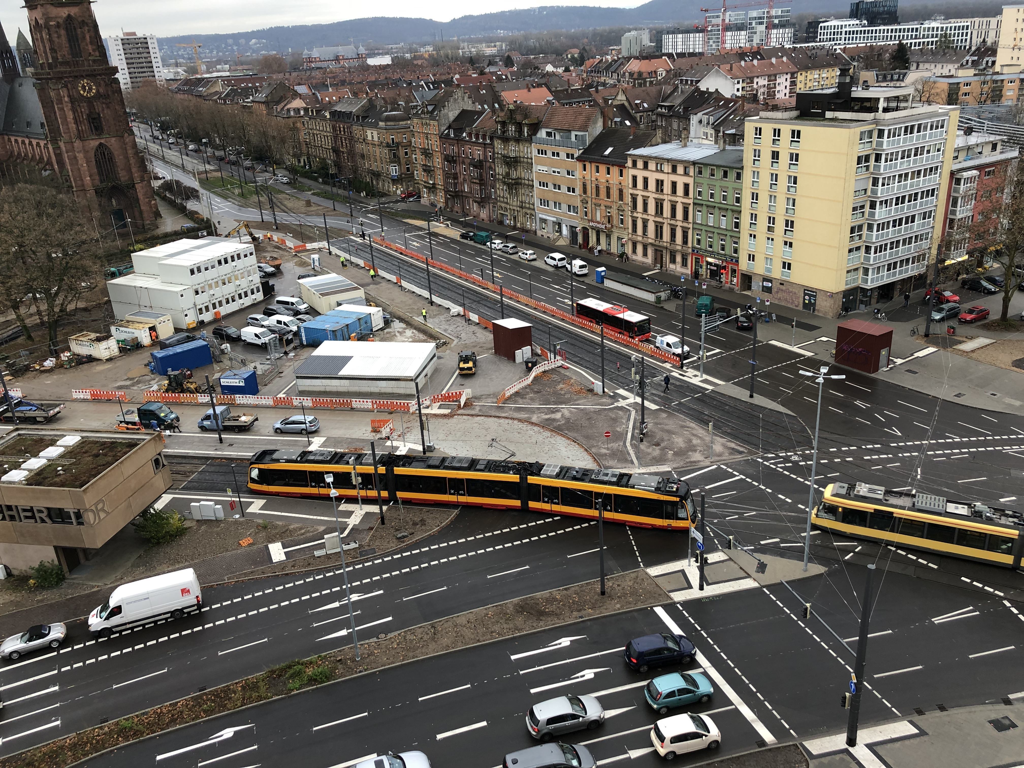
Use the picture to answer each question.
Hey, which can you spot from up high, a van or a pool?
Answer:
van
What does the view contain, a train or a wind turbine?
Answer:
train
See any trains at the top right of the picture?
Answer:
No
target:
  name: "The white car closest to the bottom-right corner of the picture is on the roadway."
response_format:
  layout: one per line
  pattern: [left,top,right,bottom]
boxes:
[649,711,724,762]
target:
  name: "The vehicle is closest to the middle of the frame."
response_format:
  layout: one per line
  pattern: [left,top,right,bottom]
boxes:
[453,348,484,379]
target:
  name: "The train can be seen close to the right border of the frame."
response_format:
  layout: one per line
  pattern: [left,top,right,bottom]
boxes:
[815,476,1024,569]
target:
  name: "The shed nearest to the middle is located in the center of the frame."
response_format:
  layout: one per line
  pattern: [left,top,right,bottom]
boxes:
[490,310,540,363]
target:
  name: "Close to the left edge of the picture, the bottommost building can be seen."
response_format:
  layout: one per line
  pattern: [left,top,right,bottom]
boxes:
[0,428,174,567]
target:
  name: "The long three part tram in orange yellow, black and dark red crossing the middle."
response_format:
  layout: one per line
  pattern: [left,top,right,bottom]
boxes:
[249,435,699,528]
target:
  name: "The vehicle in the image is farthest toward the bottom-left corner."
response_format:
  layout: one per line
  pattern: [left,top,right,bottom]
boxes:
[1,622,71,660]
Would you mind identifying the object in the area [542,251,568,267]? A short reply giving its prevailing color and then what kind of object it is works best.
white vehicle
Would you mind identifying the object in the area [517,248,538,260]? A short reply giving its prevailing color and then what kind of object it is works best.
white vehicle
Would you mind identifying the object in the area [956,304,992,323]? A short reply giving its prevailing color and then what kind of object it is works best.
red car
